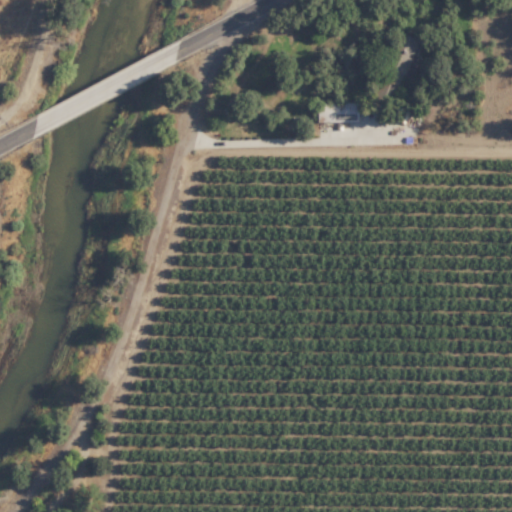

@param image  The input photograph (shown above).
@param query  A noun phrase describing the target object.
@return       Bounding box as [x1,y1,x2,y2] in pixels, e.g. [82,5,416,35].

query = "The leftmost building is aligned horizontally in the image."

[320,104,359,122]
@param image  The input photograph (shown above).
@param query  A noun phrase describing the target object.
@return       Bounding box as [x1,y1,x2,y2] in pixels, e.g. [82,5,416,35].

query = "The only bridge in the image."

[34,41,180,140]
